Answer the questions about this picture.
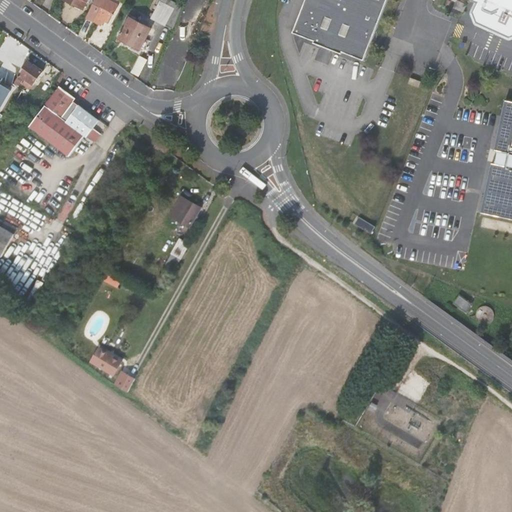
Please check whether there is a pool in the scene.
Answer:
Yes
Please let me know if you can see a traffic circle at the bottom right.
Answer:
No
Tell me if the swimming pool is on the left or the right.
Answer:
left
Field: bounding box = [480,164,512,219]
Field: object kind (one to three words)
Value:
building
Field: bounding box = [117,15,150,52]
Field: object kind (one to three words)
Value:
house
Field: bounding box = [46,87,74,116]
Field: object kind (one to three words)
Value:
building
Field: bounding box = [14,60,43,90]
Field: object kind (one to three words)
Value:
house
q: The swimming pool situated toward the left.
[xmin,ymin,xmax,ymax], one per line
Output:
[85,310,110,342]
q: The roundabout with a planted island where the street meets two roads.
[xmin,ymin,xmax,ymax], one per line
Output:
[185,74,283,174]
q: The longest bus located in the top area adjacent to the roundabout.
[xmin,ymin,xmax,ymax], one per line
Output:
[238,167,265,190]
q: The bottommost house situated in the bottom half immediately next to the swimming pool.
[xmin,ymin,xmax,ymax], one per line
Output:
[90,348,122,376]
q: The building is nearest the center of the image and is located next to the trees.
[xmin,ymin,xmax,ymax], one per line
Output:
[169,196,202,234]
